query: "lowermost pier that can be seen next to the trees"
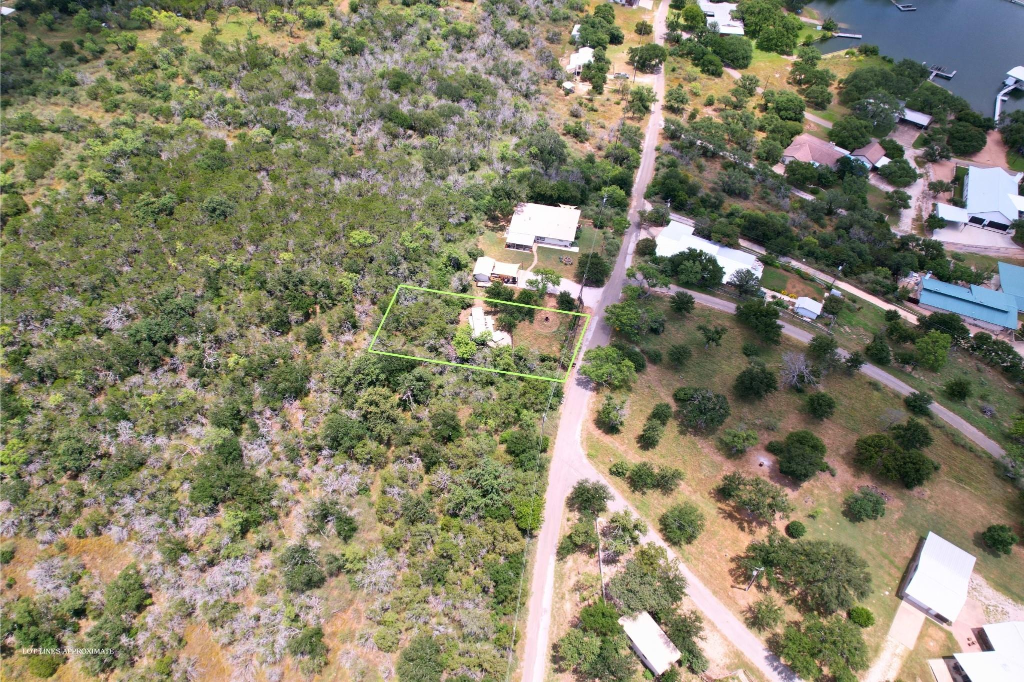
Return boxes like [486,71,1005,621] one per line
[991,84,1018,127]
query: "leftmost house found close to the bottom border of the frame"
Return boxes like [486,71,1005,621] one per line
[622,609,683,678]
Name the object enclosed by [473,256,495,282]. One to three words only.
shed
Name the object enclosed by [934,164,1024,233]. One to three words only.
house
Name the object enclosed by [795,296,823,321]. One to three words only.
shed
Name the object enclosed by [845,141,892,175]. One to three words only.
building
